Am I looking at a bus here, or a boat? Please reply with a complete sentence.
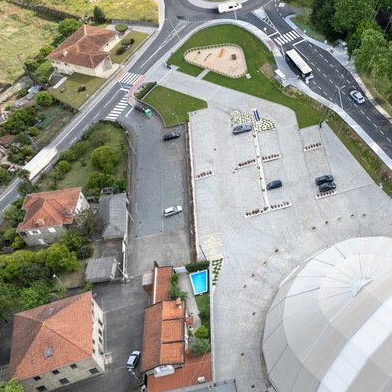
This aerial view contains a bus.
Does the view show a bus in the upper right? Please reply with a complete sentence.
Yes, a bus is visible in the upper right.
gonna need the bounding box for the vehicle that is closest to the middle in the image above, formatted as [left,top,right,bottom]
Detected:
[159,202,185,217]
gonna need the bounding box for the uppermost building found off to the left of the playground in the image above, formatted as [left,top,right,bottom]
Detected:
[46,25,118,76]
